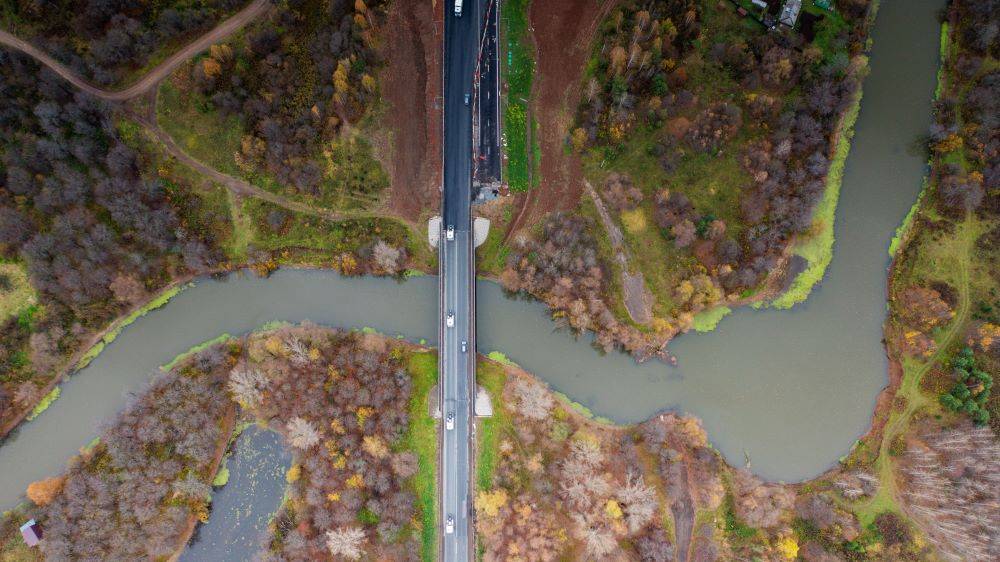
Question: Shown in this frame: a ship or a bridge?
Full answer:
Looking from above, you can make out a bridge.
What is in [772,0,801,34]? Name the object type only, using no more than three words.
house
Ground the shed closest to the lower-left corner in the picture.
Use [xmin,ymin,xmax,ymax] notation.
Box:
[17,521,45,546]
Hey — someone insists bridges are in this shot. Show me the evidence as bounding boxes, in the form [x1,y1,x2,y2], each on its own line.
[439,221,476,400]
